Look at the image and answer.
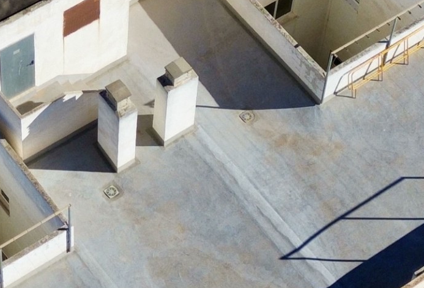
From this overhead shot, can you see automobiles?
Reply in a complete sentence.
No, this view has no automobile in it.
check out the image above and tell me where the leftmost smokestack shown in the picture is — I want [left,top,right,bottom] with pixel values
[91,78,142,178]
